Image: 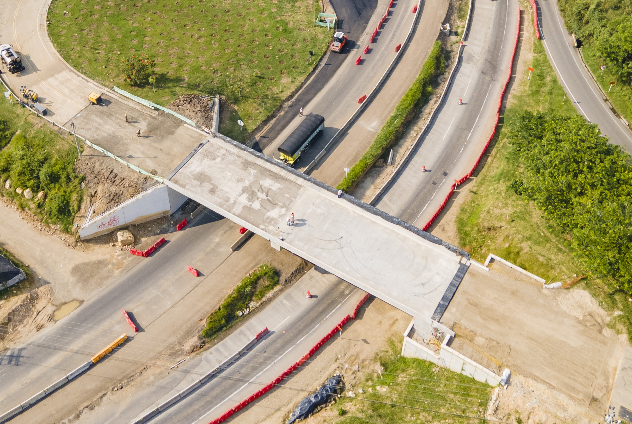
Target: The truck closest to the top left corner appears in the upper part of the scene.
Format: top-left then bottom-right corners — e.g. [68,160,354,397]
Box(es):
[0,38,25,74]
